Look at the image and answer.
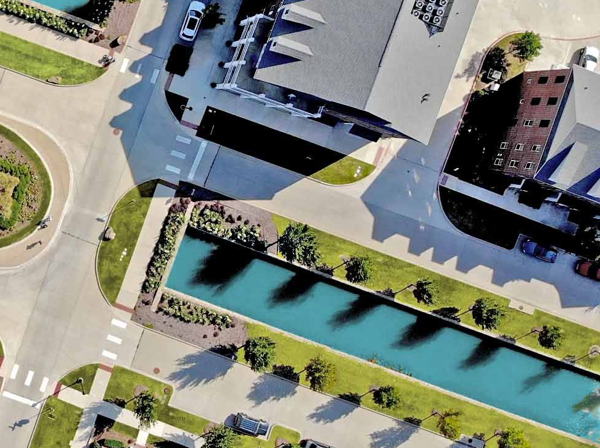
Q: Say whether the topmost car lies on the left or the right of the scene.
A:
left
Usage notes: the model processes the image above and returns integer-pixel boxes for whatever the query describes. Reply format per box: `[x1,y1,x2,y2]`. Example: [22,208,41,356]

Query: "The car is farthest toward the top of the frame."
[178,0,205,44]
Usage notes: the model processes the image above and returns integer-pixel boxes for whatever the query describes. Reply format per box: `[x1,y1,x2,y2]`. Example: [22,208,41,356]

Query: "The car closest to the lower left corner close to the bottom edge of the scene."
[230,410,272,438]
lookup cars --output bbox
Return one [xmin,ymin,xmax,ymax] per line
[178,0,205,44]
[577,39,600,71]
[572,257,600,280]
[230,410,272,438]
[304,436,340,448]
[517,238,561,264]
